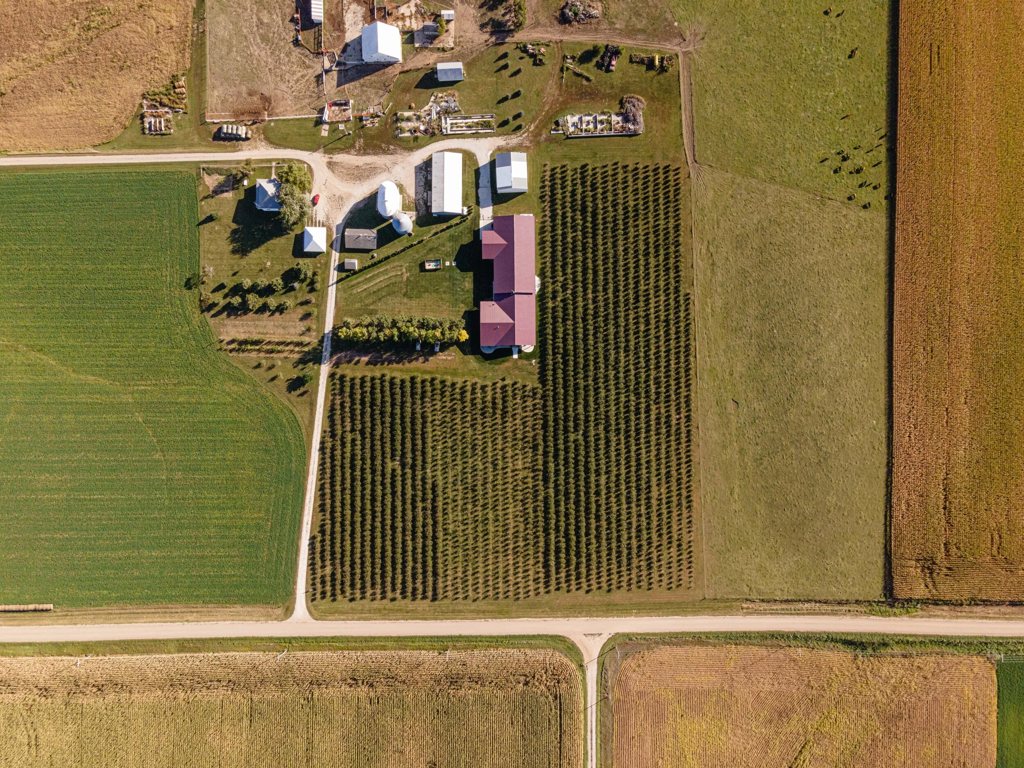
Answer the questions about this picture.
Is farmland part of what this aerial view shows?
Yes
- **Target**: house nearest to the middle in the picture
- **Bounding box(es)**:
[480,215,536,346]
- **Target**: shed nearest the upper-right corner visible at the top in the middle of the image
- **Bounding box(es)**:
[496,150,528,193]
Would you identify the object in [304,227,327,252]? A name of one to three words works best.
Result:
building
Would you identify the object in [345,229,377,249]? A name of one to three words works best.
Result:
shed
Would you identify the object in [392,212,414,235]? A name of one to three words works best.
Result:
silo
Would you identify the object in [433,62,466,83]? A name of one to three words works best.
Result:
shed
